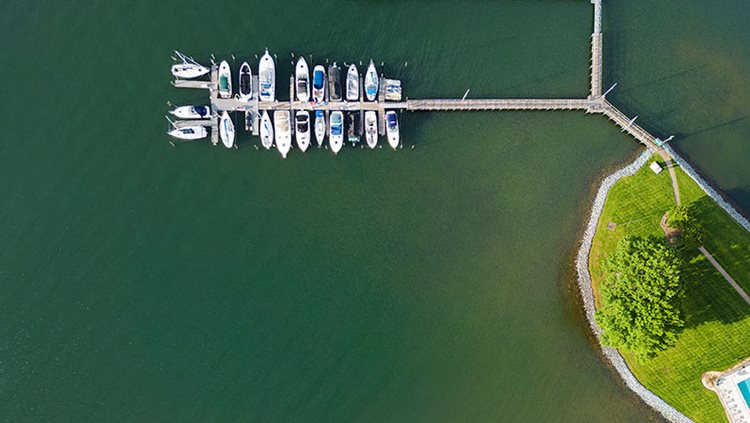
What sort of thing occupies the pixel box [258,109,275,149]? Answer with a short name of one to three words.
boat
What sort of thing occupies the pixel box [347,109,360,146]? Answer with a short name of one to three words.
boat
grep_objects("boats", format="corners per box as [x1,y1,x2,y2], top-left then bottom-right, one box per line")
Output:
[274,109,293,160]
[347,109,360,146]
[167,105,212,121]
[238,61,253,99]
[330,64,341,102]
[385,110,401,151]
[218,59,234,101]
[294,56,311,105]
[217,110,237,149]
[170,46,209,80]
[313,65,326,103]
[160,116,209,141]
[259,48,277,105]
[364,111,379,149]
[364,59,379,102]
[258,109,275,149]
[346,64,360,102]
[382,78,403,100]
[329,109,345,155]
[313,110,326,148]
[295,108,312,152]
